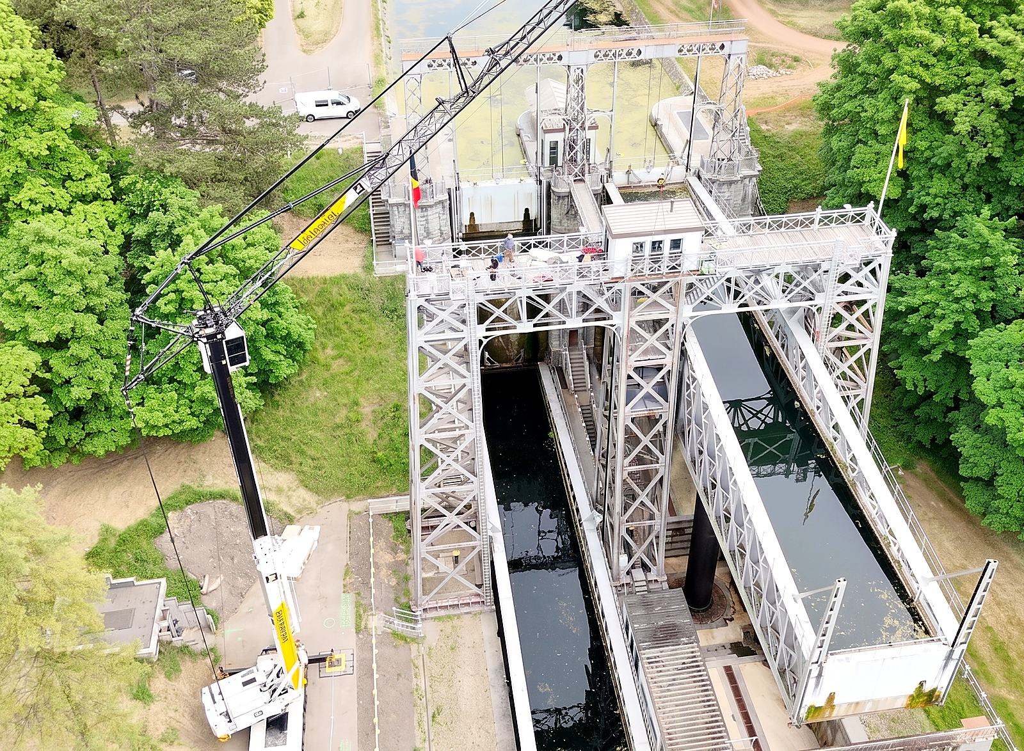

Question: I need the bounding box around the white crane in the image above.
[120,0,587,751]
